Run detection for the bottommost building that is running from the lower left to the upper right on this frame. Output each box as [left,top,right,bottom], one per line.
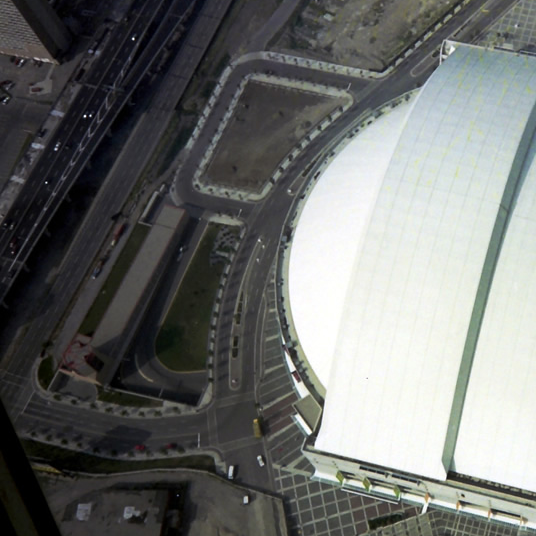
[58,204,189,387]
